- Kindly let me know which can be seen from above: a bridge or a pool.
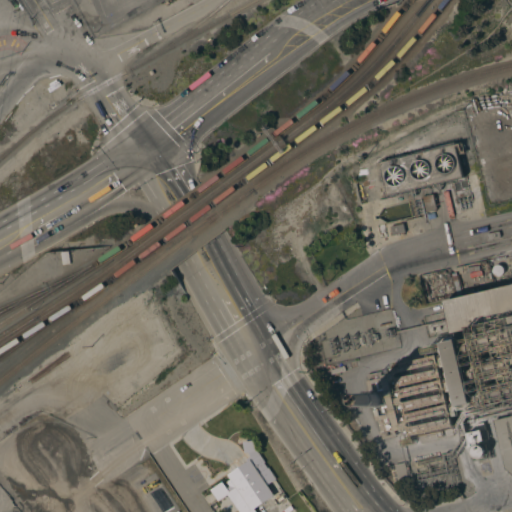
bridge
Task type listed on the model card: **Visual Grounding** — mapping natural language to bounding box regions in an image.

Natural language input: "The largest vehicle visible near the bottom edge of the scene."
[334,451,363,490]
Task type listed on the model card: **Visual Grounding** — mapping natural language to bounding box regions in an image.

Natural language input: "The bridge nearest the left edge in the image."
[154,186,245,267]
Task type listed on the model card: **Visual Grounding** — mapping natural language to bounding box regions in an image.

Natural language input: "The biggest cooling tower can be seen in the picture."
[381,141,468,198]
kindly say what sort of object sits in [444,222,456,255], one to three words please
vehicle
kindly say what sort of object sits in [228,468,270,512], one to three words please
building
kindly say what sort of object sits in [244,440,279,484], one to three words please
building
